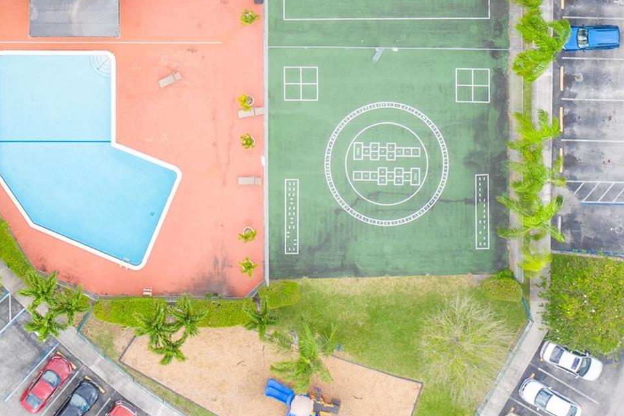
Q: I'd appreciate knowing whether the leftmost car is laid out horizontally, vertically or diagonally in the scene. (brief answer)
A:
diagonally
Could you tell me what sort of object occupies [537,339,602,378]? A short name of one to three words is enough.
car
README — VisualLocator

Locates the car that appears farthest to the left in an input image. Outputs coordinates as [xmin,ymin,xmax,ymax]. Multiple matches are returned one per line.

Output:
[20,351,72,413]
